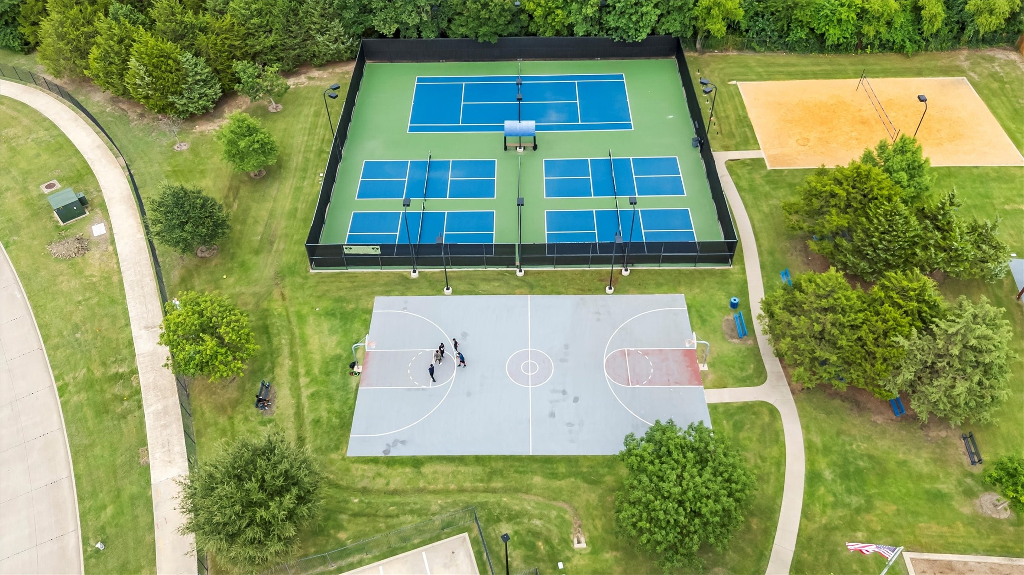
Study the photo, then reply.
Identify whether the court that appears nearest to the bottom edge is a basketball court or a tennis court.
basketball court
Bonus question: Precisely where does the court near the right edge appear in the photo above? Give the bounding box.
[737,76,1024,169]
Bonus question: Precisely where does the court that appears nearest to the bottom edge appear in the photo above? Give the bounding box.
[347,293,714,456]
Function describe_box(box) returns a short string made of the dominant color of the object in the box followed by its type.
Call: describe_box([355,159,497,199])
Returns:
blue sports court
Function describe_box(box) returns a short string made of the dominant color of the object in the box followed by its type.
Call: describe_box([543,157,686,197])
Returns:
blue sports court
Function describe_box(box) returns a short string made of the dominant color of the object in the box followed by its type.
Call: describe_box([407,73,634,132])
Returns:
blue tennis court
